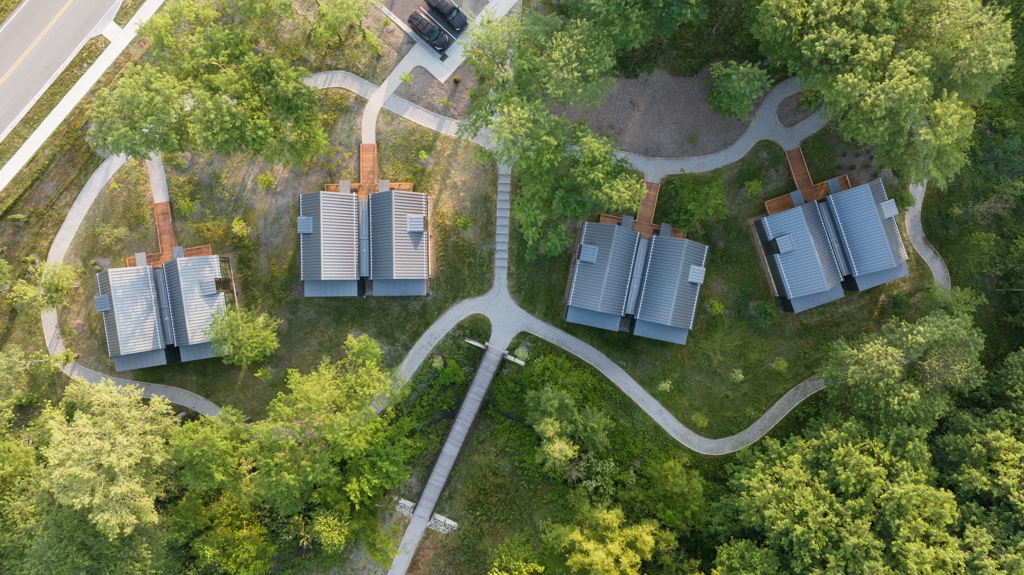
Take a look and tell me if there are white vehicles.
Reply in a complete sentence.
No, there isn't any white vehicle down there.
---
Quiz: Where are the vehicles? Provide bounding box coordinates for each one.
[406,8,451,53]
[421,0,470,34]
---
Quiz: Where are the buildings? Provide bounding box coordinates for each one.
[93,246,244,370]
[749,176,910,313]
[298,180,432,297]
[565,215,709,343]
